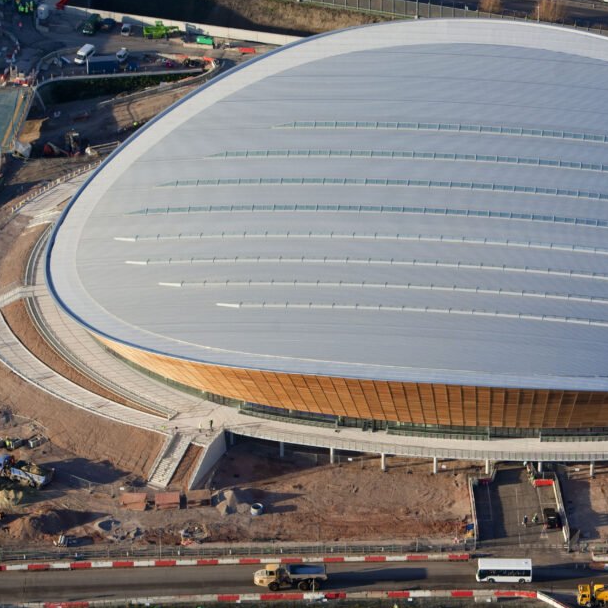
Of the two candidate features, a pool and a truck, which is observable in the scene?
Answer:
truck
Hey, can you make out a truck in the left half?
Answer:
Yes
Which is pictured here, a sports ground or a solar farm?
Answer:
sports ground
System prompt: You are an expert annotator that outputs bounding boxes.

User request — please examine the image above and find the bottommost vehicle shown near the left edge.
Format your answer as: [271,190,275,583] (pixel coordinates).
[0,456,52,491]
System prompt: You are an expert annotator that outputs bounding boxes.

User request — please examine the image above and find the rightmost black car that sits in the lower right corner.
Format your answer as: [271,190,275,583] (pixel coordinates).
[543,510,558,533]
